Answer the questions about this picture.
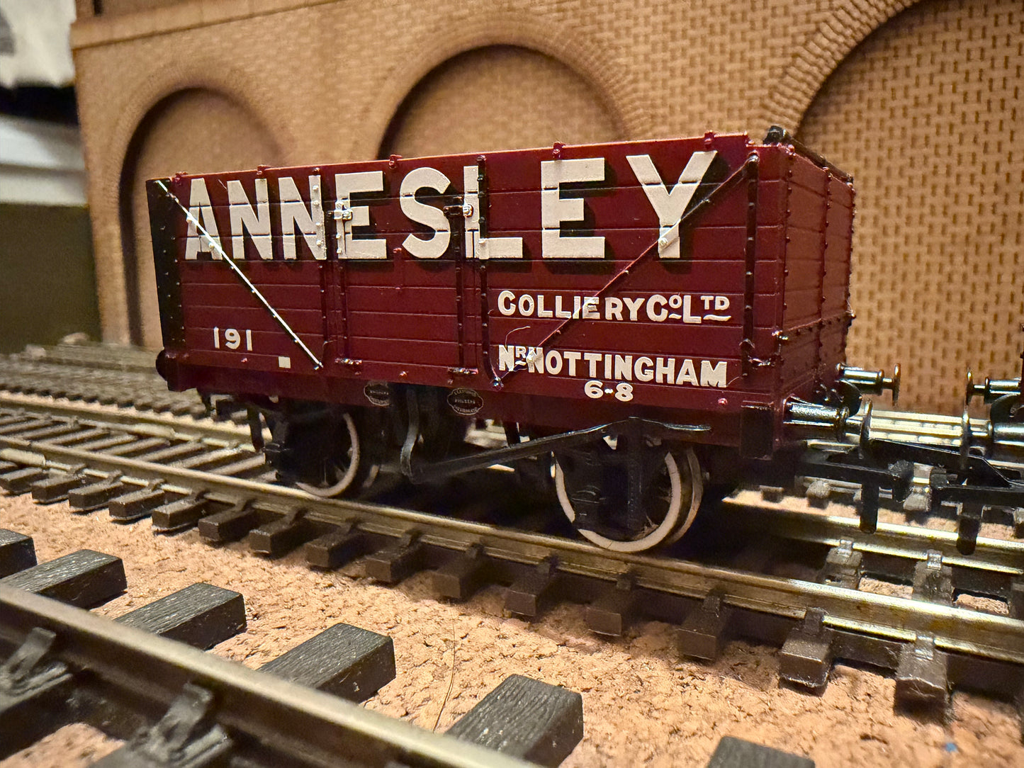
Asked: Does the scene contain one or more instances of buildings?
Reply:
No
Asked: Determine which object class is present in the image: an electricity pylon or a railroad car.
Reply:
railroad car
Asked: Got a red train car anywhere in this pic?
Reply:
Yes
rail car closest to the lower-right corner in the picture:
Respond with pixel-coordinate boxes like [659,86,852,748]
[873,294,1024,549]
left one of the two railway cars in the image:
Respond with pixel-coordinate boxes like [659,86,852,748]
[146,125,912,551]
